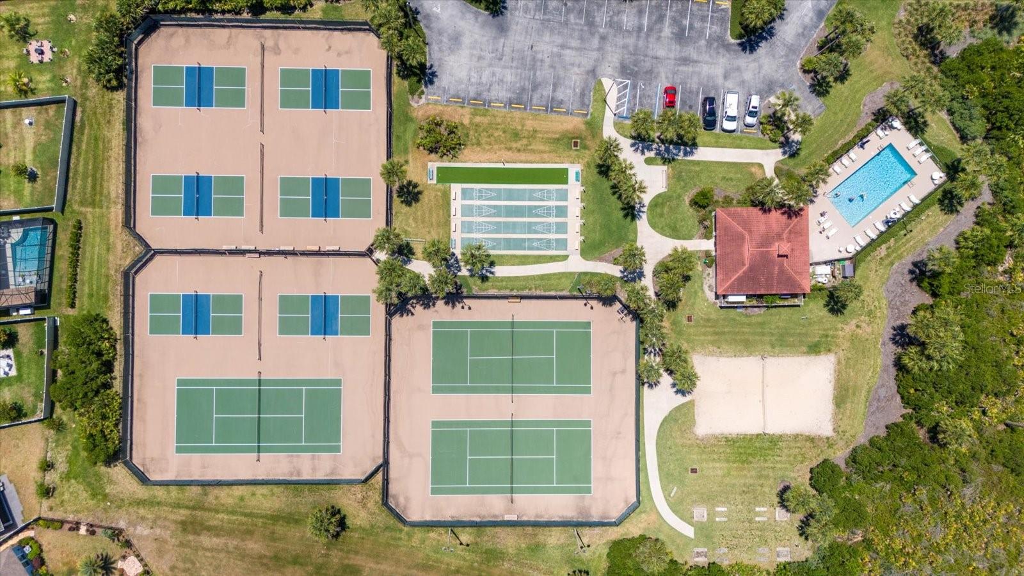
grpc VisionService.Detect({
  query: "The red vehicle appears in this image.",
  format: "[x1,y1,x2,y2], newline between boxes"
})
[662,85,677,112]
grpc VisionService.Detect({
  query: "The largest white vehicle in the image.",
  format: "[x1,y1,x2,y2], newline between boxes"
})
[721,91,739,134]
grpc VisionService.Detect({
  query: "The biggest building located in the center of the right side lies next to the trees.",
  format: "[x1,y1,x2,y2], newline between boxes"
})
[711,206,810,305]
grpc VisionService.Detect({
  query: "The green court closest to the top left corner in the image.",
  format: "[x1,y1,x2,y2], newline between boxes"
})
[152,62,246,113]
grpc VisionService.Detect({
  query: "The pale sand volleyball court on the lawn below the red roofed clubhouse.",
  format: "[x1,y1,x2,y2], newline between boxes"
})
[693,354,835,438]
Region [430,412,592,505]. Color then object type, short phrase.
green tennis court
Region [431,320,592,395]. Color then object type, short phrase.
green tennis court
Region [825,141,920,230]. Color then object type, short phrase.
blue swimming pool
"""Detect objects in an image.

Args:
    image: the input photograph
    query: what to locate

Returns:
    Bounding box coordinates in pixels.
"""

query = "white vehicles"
[721,91,739,134]
[743,95,760,127]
